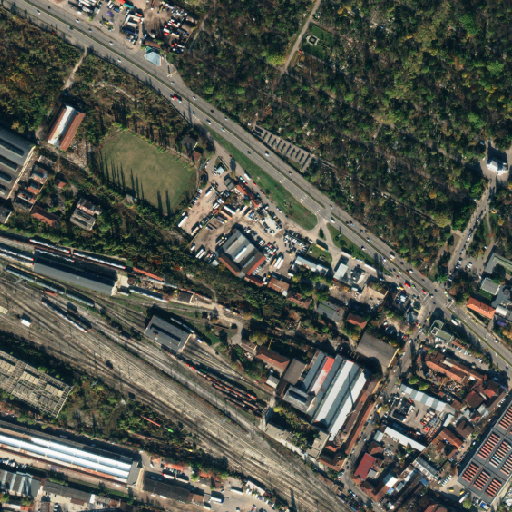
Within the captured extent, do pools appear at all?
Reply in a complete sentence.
No, the picture doesn't show any pool.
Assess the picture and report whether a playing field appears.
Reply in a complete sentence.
Yes, there's a playing field here.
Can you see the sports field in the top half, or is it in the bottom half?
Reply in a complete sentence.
It is in the top half that the sports field appears.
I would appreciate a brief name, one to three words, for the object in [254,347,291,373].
house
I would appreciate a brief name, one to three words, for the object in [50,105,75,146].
shed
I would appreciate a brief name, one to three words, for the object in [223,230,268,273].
building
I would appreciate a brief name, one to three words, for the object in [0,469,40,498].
building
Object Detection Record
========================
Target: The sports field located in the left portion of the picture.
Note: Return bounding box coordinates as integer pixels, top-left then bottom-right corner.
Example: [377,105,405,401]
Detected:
[100,128,201,216]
